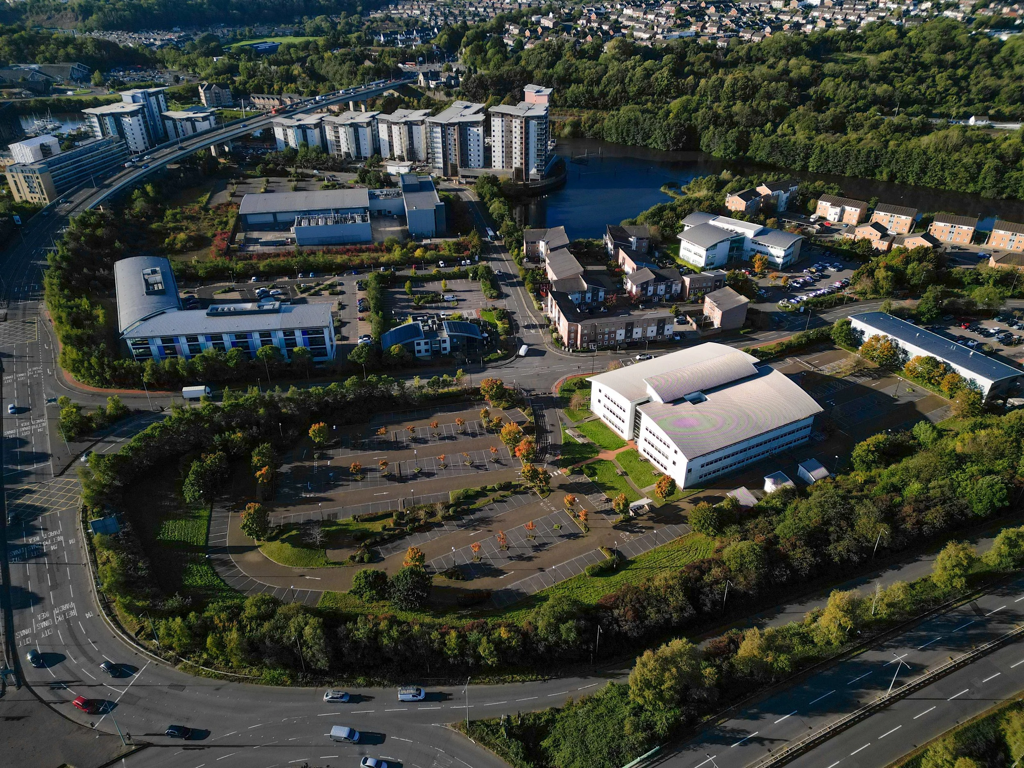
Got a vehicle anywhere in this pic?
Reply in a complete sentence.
Yes, there's a vehicle here.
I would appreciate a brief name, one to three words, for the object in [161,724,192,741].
car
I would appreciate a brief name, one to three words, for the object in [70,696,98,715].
car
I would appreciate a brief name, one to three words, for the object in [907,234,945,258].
house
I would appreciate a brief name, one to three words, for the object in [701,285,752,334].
building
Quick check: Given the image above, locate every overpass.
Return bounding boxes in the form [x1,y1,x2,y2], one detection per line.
[15,78,414,236]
